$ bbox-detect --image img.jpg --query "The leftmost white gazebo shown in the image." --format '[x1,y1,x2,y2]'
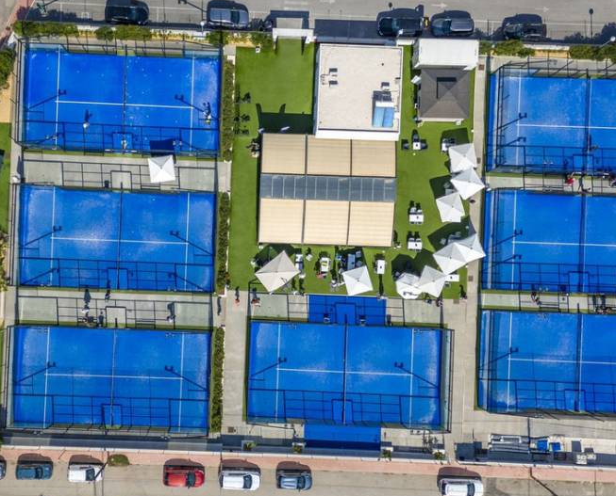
[149,155,177,184]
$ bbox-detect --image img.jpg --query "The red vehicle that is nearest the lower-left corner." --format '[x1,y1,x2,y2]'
[163,467,206,490]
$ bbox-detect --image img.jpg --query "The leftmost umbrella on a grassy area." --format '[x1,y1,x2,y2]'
[255,251,299,291]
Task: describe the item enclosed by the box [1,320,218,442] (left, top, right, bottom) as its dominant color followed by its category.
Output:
blue sports court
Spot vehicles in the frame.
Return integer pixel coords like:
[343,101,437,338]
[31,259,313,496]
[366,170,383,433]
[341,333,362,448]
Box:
[430,14,476,38]
[277,471,313,493]
[220,468,262,492]
[15,461,54,484]
[501,18,549,43]
[206,5,250,29]
[376,12,424,37]
[67,463,104,484]
[163,467,206,490]
[438,479,484,496]
[104,2,150,26]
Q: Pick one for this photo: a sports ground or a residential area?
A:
sports ground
